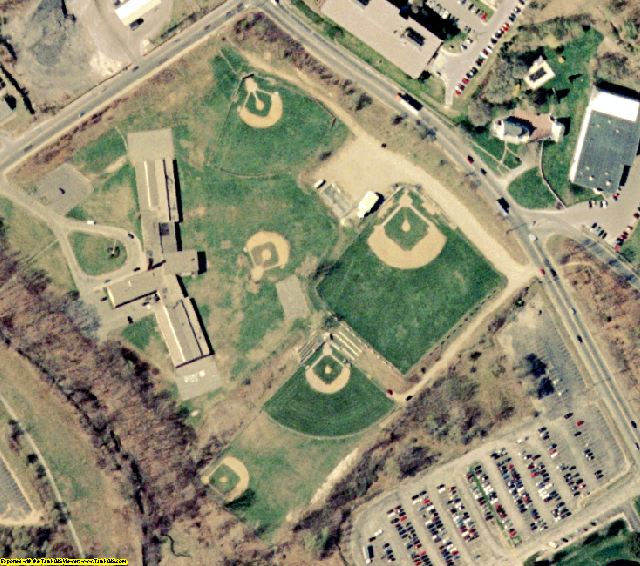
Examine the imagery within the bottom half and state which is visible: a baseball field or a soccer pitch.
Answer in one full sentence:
The feature located within the bottom half is a baseball field.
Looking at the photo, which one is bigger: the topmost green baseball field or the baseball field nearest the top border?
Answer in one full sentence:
The baseball field nearest the top border is smaller than the topmost green baseball field.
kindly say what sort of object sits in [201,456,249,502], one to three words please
baseball field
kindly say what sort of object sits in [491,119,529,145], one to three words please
house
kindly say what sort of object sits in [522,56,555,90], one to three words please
house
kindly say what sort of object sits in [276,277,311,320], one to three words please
sports court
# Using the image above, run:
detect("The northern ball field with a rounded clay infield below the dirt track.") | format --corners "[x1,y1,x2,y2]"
[238,77,282,128]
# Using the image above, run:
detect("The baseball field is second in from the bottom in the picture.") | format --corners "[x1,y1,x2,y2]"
[263,338,394,437]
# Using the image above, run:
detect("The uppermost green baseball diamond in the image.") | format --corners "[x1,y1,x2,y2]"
[319,187,508,375]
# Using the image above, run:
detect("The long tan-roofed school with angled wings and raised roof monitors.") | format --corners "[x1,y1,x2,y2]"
[108,159,214,367]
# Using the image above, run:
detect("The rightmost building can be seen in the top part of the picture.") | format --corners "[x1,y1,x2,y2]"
[569,92,640,197]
